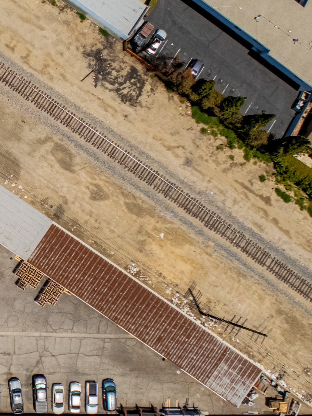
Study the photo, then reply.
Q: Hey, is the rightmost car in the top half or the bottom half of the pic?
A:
top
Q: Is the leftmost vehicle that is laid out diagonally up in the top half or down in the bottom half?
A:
top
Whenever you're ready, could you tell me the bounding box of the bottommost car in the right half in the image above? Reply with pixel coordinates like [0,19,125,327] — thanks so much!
[186,52,209,82]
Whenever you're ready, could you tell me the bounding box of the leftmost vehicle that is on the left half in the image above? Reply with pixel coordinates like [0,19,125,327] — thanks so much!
[9,378,24,414]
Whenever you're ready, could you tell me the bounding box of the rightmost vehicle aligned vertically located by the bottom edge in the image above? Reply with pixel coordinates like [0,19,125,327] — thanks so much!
[101,378,117,412]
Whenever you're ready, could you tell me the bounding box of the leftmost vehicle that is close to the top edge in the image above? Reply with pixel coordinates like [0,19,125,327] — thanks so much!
[131,17,157,50]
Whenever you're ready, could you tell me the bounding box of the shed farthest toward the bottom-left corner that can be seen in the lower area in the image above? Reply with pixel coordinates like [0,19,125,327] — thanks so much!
[27,223,263,408]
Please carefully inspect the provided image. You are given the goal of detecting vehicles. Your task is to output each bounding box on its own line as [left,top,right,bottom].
[33,373,48,414]
[9,378,24,414]
[85,379,100,414]
[144,27,169,57]
[101,378,117,412]
[51,382,65,414]
[186,52,209,82]
[131,17,157,50]
[69,381,83,413]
